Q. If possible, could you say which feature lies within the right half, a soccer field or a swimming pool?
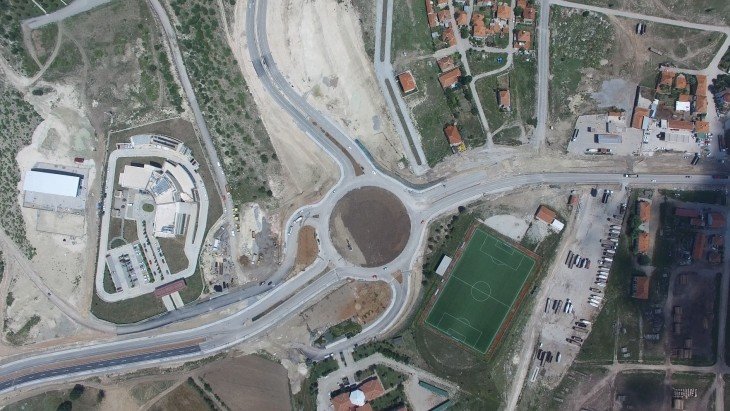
soccer field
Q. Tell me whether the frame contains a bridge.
No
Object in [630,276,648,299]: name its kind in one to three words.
barn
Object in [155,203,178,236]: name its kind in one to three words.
building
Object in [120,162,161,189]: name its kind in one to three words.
building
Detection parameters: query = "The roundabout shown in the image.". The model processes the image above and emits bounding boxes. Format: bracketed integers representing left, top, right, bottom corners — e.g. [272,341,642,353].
[294,166,424,284]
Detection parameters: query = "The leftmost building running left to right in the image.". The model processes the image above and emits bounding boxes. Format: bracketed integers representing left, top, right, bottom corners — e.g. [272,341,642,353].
[24,171,85,197]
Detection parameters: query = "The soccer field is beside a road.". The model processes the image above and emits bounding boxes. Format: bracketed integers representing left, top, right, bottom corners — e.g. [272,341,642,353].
[420,218,538,360]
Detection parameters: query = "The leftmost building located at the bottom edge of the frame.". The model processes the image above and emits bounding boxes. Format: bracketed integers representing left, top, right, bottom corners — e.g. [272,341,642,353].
[329,373,386,411]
